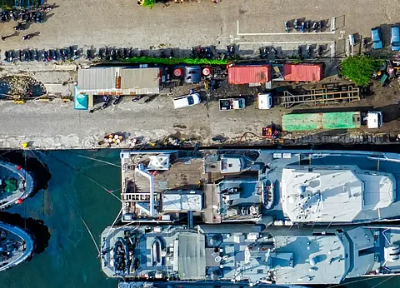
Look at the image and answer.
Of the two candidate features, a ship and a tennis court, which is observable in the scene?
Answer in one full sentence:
Visible in the photo is a ship.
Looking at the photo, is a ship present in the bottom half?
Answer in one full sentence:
Yes, I can see a ship in the bottom half.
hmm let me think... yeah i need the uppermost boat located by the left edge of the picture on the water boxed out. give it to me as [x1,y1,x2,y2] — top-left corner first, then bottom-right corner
[0,160,40,210]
